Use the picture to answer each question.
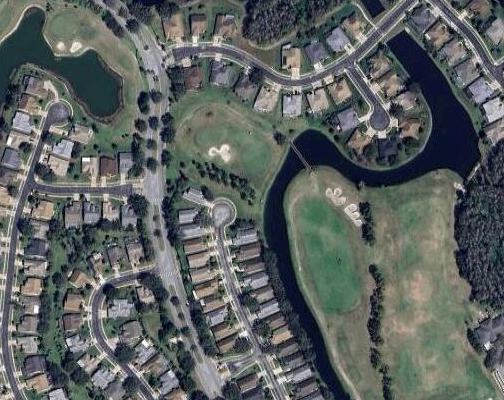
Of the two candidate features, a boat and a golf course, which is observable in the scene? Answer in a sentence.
The one in the frame is a golf course.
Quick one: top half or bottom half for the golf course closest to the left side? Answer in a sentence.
The top half of the photo is where the golf course closest to the left side is.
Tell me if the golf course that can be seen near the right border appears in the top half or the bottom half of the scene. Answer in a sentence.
The golf course that can be seen near the right border sits in the bottom half of the picture.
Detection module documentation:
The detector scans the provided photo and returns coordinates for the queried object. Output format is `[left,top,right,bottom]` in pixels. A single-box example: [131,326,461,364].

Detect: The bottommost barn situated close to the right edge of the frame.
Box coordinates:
[471,313,504,359]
